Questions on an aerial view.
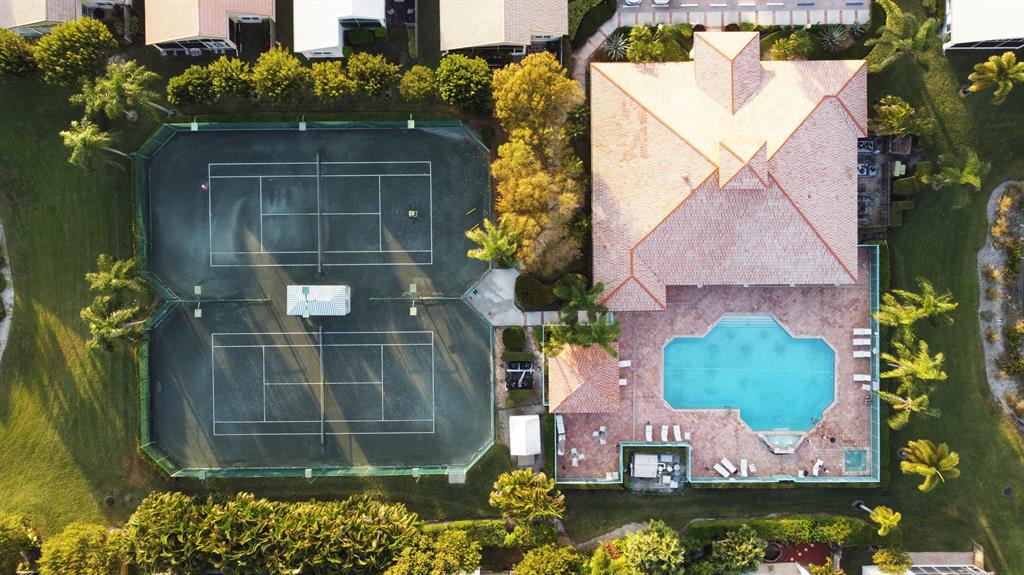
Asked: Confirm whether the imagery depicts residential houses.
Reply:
Yes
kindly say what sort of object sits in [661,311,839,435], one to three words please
swimming pool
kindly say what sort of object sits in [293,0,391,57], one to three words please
house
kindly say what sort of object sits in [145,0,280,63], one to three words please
house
